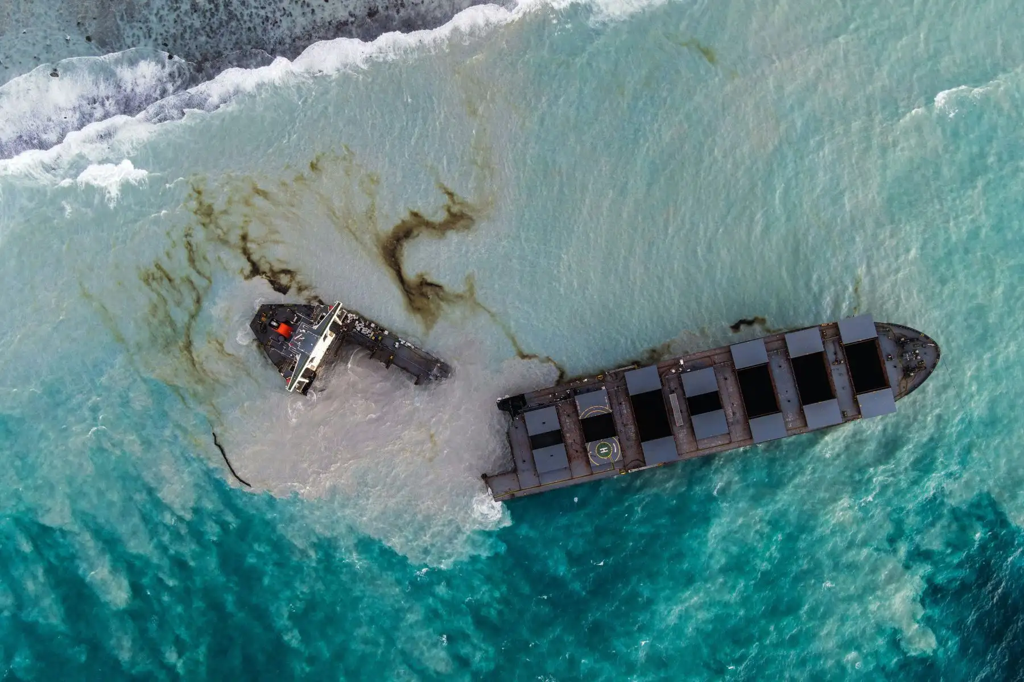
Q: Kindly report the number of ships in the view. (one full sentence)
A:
The picture shows 2 ships.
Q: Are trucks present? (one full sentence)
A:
No, I find no truck anywhere in the image.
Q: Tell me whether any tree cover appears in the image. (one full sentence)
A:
No, the scene doesn't show any tree cover.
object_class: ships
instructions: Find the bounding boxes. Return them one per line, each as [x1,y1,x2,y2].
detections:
[480,313,940,502]
[250,301,450,396]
